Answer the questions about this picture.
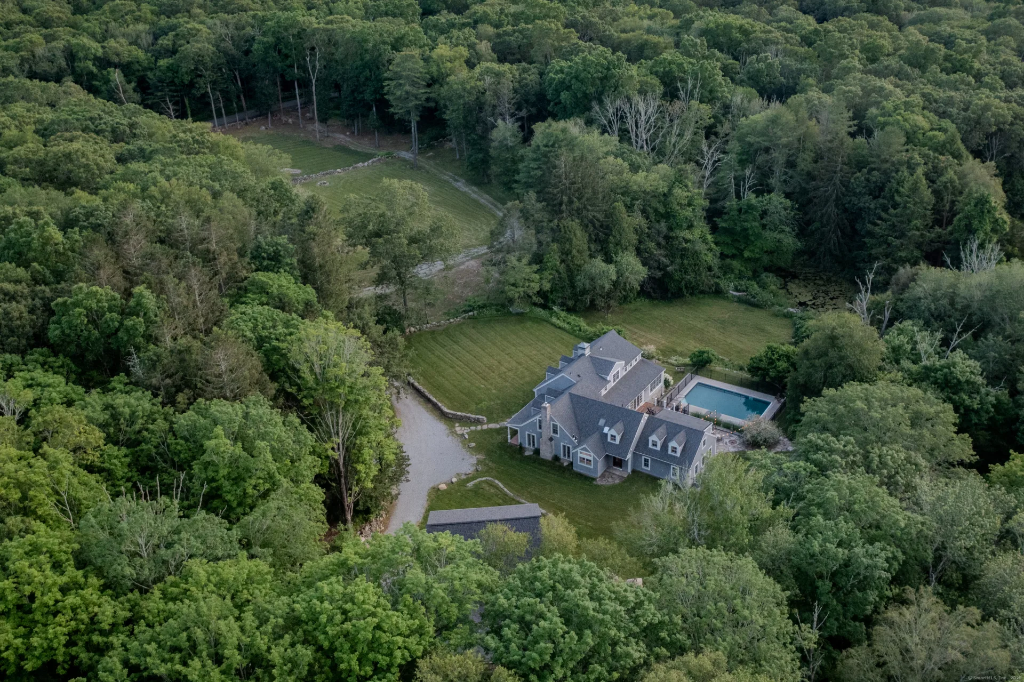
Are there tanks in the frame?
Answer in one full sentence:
No, no tank is visible in the view.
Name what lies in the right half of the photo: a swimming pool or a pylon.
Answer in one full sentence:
Visible in the right half of the photo is a swimming pool.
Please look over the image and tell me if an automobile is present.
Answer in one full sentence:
No, no automobile is visible in the view.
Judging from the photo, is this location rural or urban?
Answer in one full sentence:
This place is rural.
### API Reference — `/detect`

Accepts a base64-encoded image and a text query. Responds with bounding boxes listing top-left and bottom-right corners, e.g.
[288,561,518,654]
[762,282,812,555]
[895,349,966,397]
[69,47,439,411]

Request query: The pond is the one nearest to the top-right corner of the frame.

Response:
[770,260,894,325]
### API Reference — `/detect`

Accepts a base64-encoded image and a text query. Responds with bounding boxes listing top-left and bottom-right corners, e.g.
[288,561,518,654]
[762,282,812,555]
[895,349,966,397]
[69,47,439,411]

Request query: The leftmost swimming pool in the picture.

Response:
[670,374,785,425]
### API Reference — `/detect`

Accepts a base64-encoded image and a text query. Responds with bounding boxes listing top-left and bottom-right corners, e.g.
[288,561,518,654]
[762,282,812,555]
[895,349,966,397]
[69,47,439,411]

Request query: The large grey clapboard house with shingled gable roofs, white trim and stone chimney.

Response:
[505,331,716,486]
